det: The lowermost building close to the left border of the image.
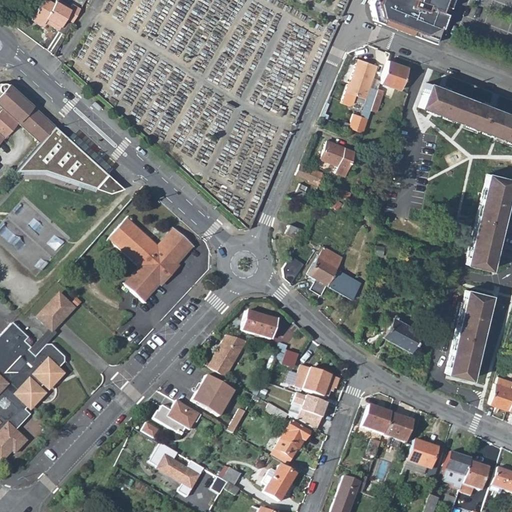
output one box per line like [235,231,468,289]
[0,323,67,460]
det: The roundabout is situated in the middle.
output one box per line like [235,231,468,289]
[203,222,288,312]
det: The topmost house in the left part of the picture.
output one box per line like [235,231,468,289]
[34,0,85,33]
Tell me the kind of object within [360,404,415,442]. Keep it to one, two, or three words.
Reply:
house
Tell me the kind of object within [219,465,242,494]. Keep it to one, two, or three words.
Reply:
shed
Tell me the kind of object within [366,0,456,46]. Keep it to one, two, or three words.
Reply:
building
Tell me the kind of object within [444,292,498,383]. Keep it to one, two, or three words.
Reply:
building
